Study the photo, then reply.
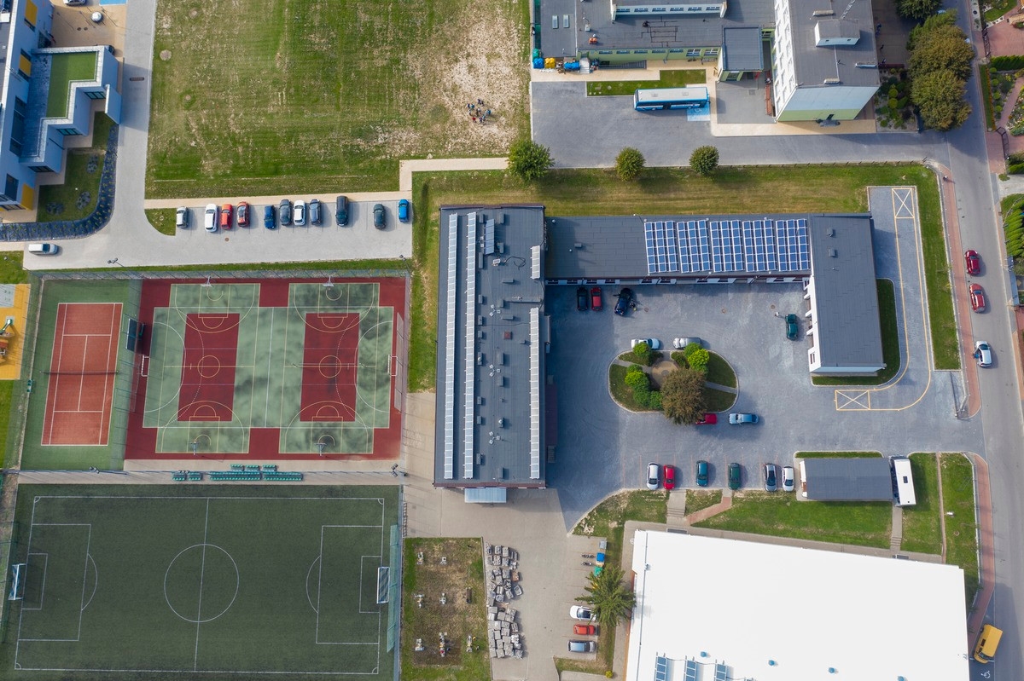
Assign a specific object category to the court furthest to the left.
tennis court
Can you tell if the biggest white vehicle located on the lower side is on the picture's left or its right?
right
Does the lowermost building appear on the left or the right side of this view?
right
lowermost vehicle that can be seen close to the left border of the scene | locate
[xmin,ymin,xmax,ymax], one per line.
[25,241,59,255]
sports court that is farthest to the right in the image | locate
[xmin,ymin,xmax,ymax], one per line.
[125,278,408,459]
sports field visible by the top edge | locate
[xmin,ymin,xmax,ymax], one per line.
[145,0,531,198]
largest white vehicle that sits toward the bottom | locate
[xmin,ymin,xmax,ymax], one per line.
[891,457,918,507]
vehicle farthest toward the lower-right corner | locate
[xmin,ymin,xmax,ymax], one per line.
[975,622,1002,665]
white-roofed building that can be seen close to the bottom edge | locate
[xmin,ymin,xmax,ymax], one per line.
[623,530,970,681]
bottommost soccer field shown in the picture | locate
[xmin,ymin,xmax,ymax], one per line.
[4,486,401,681]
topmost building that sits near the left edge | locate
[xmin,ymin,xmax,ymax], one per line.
[0,0,117,211]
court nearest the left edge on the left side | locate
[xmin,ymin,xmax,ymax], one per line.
[20,279,141,470]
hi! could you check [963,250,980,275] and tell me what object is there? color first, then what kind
red car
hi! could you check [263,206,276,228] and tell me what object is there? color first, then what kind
blue vehicle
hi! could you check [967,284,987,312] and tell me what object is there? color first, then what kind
red car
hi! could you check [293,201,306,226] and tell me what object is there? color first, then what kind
white vehicle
